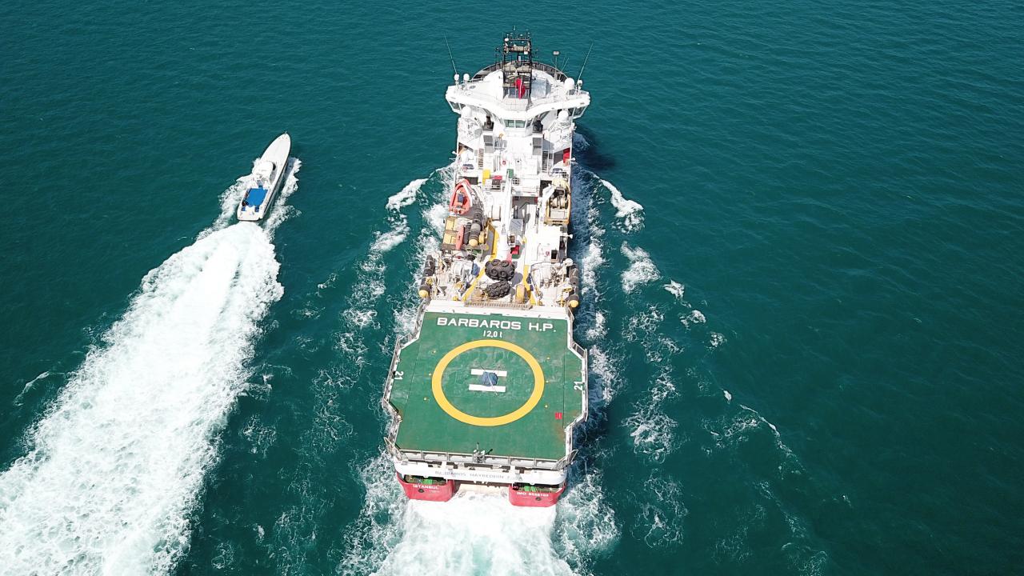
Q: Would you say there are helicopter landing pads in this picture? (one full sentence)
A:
Yes, a helicopter landing pad appears in the view.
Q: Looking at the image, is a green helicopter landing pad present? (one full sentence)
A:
Yes, the frame does contain a green helicopter landing pad.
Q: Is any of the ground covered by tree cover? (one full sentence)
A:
No, there is no tree cover in the image.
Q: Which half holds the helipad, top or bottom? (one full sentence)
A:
The helipad is in the bottom half of the image.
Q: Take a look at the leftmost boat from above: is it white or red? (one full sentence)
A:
The leftmost boat looks white in the image.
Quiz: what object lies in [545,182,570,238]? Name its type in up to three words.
boat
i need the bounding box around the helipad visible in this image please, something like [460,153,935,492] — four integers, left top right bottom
[384,298,587,472]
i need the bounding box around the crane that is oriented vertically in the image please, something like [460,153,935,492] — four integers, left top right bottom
[494,176,518,261]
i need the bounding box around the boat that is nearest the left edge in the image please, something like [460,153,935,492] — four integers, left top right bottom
[236,128,292,223]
